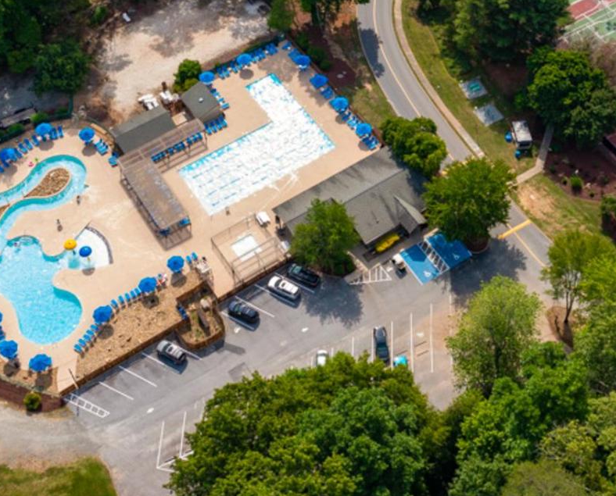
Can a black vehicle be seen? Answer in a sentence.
Yes, the photo shows a black vehicle.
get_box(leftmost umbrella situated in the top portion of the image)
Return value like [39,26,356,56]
[0,150,16,165]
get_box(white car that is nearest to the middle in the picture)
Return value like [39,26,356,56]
[268,277,301,298]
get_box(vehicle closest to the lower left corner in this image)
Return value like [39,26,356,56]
[156,341,187,365]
